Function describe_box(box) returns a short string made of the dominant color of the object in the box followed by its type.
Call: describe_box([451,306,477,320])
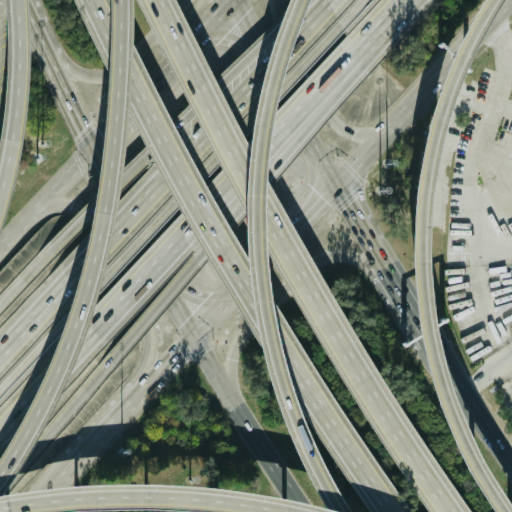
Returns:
white vehicle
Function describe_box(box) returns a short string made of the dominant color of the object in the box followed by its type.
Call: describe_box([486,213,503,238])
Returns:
white vehicle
